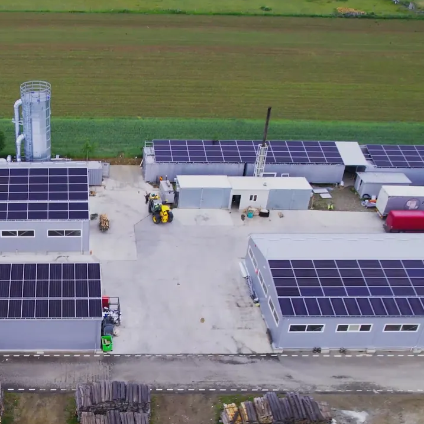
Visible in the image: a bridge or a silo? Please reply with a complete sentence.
It is a silo that can be seen here.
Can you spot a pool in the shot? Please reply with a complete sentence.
No, no pool is visible in the scene.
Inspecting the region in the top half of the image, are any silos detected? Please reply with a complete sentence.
Yes, a silo shows up in the top half of the image.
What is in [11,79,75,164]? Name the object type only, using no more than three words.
silo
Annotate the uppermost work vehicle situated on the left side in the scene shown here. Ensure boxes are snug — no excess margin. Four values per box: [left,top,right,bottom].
[144,189,175,224]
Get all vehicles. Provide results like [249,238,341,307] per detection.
[102,311,115,339]
[144,189,175,224]
[382,208,424,235]
[373,185,424,221]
